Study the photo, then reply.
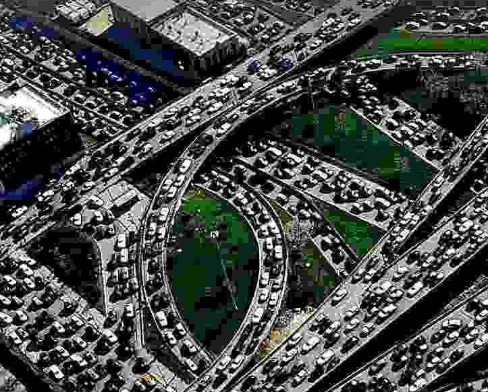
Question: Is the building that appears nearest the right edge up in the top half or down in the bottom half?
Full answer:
The building that appears nearest the right edge sits in the top half of the picture.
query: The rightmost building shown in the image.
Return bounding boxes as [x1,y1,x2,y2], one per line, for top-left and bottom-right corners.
[155,5,243,83]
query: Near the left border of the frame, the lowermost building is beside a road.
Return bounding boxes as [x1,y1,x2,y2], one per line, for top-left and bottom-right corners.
[0,86,82,197]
